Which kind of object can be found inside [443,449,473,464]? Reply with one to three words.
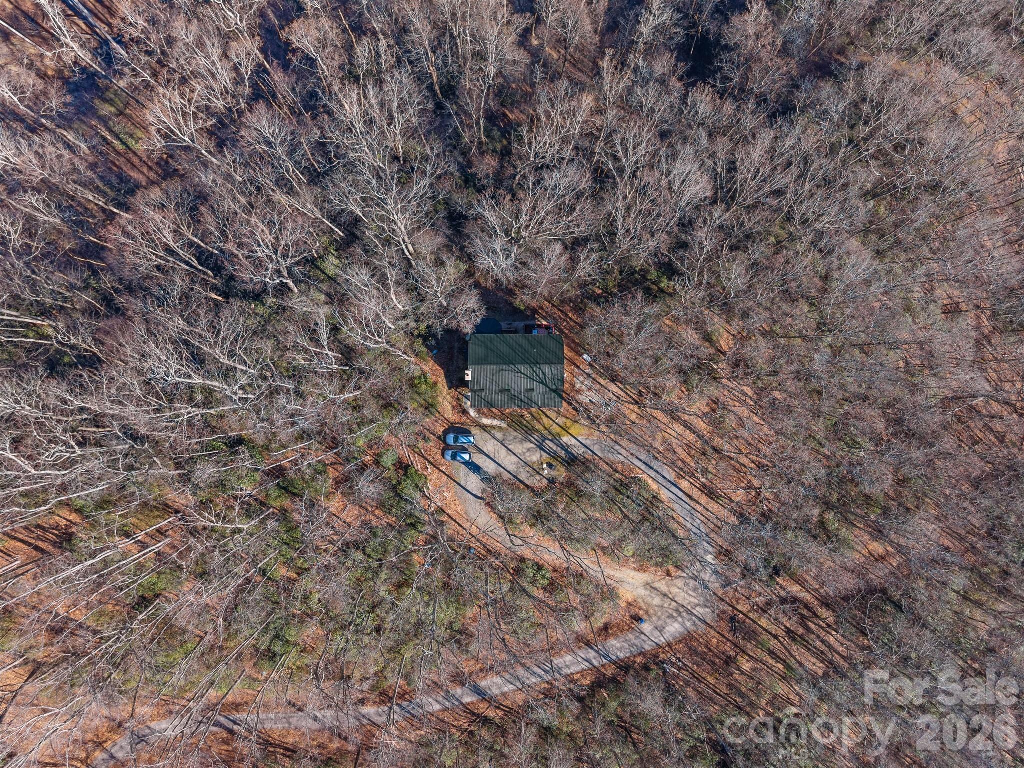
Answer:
car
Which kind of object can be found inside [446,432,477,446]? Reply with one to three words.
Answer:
car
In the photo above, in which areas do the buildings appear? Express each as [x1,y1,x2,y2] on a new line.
[463,335,565,409]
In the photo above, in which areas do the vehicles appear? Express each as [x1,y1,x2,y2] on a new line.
[446,432,477,446]
[443,449,473,464]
